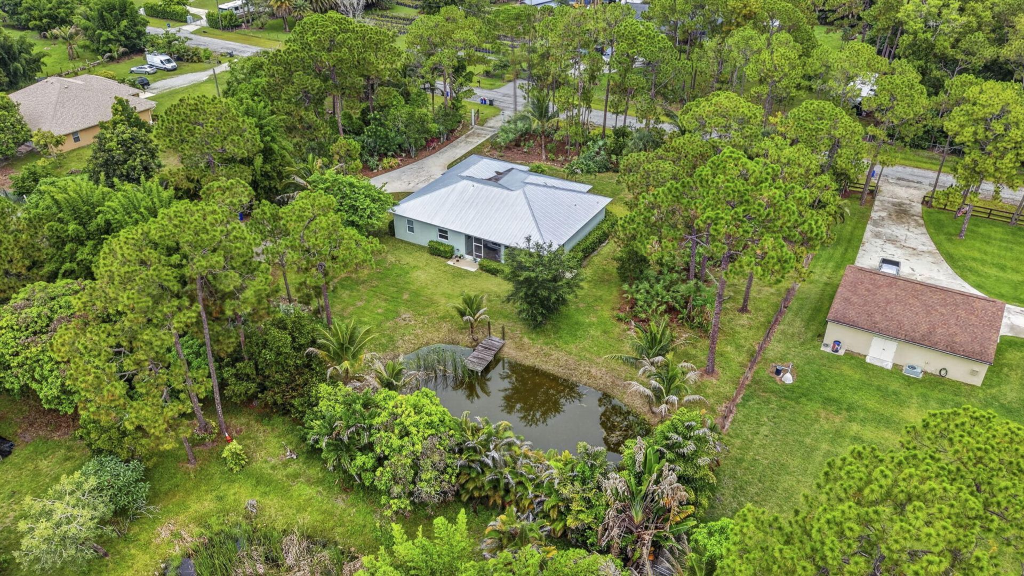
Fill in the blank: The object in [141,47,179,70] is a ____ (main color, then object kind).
white vehicle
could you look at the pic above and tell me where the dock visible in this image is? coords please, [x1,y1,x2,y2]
[463,324,507,377]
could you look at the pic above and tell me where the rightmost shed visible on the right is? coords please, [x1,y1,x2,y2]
[821,257,1005,395]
